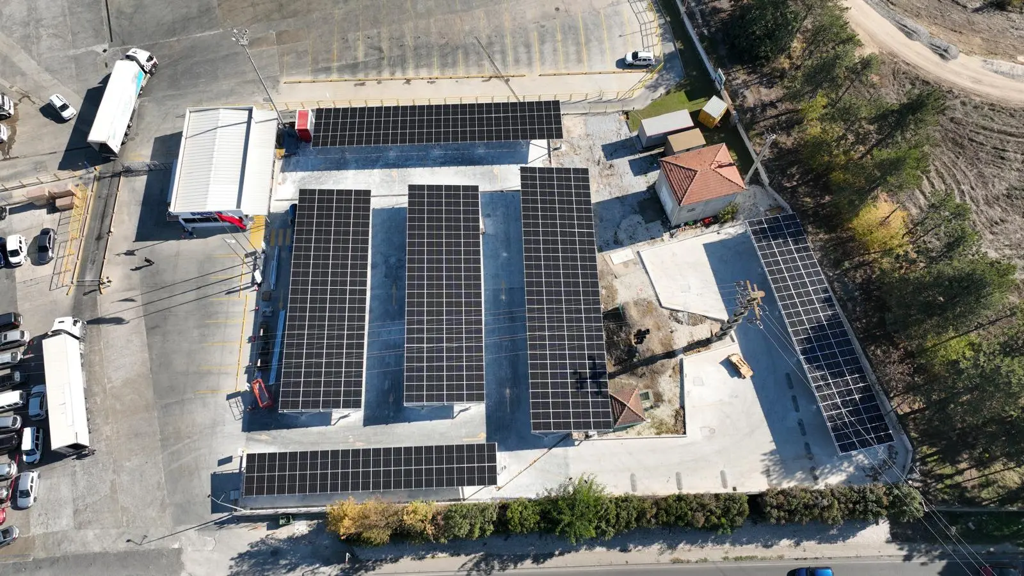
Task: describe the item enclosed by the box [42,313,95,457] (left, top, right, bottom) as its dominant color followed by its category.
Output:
white truck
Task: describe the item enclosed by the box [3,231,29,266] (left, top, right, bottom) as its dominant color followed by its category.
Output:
white vehicle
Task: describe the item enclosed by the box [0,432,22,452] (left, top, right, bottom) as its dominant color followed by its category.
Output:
black car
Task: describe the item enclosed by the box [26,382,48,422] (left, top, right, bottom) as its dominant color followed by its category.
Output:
blue car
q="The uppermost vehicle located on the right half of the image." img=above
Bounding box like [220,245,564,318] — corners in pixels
[624,50,656,67]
